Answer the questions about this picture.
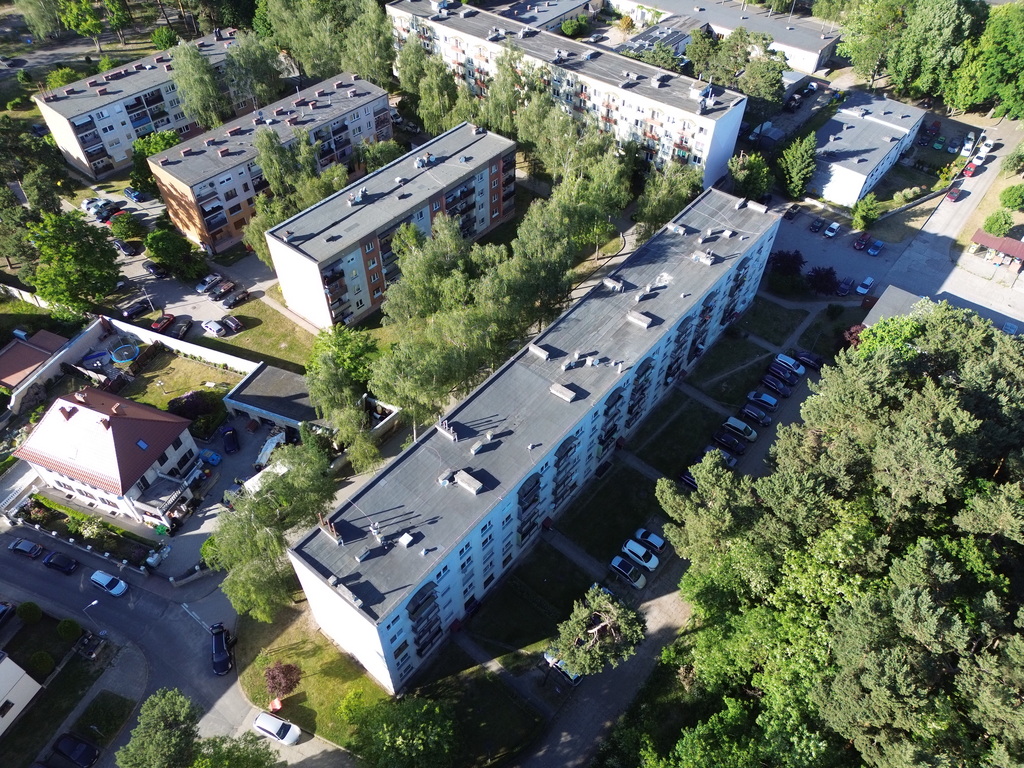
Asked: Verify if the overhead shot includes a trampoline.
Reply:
Yes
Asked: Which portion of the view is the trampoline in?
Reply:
left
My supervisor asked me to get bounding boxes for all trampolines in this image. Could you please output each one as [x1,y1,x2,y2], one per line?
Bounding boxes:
[106,335,141,365]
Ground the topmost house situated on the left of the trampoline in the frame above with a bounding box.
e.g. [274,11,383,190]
[0,326,70,399]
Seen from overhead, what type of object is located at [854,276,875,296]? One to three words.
car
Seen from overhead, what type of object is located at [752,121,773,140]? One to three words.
vehicle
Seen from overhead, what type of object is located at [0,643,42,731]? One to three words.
house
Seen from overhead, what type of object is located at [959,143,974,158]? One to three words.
car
